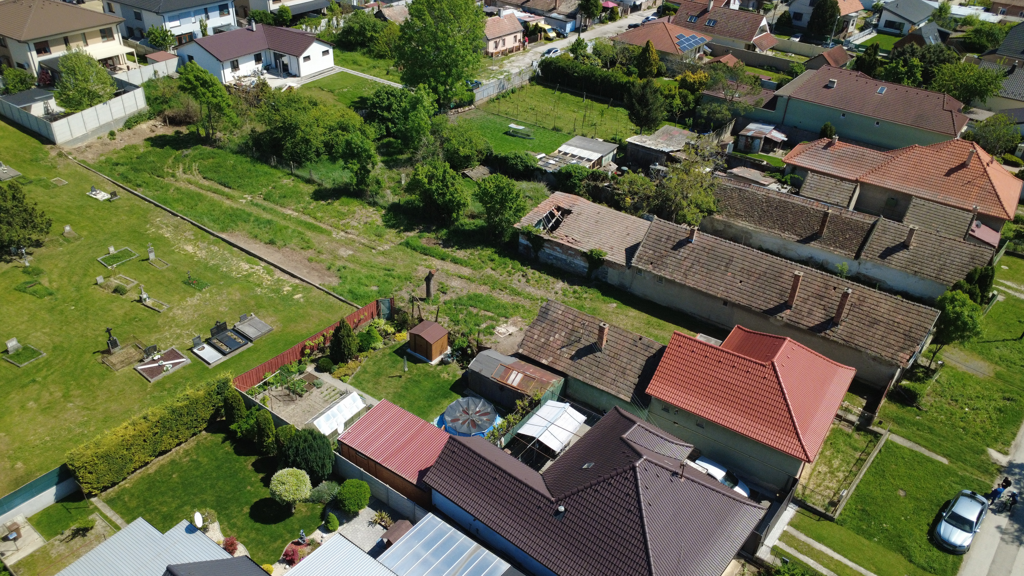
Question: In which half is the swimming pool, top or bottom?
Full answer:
The swimming pool sits in the bottom half of the picture.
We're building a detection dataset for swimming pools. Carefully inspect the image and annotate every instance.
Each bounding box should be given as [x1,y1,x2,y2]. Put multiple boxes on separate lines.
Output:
[439,396,502,438]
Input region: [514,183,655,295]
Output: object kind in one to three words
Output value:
shed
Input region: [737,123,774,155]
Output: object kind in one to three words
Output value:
shed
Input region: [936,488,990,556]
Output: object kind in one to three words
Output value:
car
